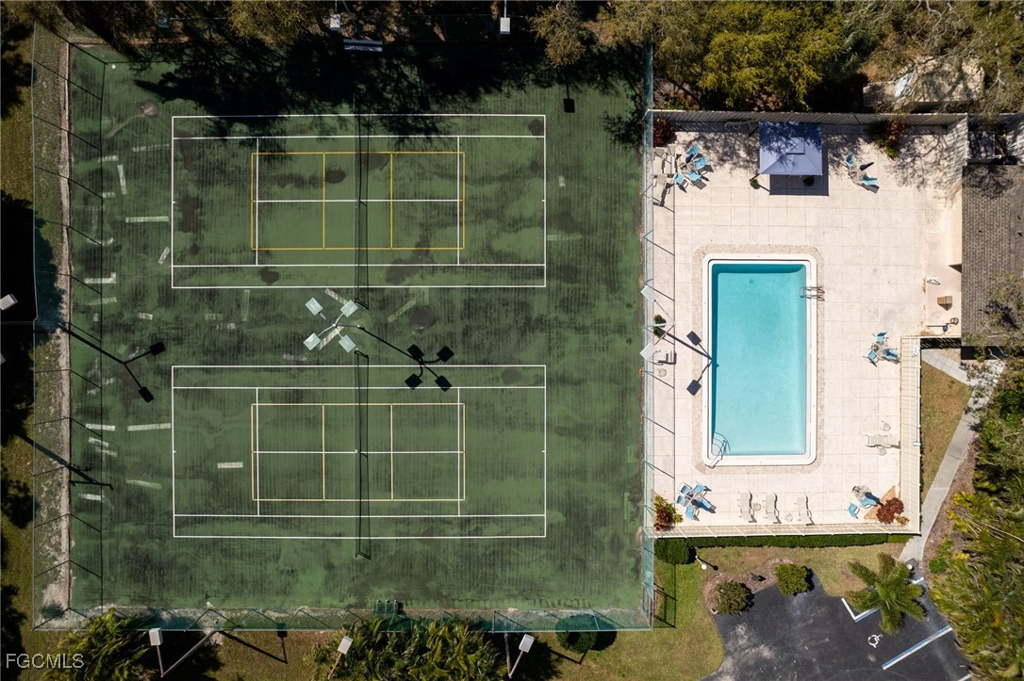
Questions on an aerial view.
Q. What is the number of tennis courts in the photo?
2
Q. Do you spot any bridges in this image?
No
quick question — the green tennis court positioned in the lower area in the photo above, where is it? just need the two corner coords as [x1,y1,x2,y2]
[172,365,546,538]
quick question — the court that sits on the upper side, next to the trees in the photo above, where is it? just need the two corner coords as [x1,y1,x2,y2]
[172,115,546,288]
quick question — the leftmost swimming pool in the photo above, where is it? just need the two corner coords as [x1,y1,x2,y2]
[697,246,824,474]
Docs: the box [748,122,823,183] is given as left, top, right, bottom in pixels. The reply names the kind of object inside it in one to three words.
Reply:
gazebo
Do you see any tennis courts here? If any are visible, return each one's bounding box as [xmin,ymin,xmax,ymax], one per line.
[172,365,546,538]
[172,115,546,288]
